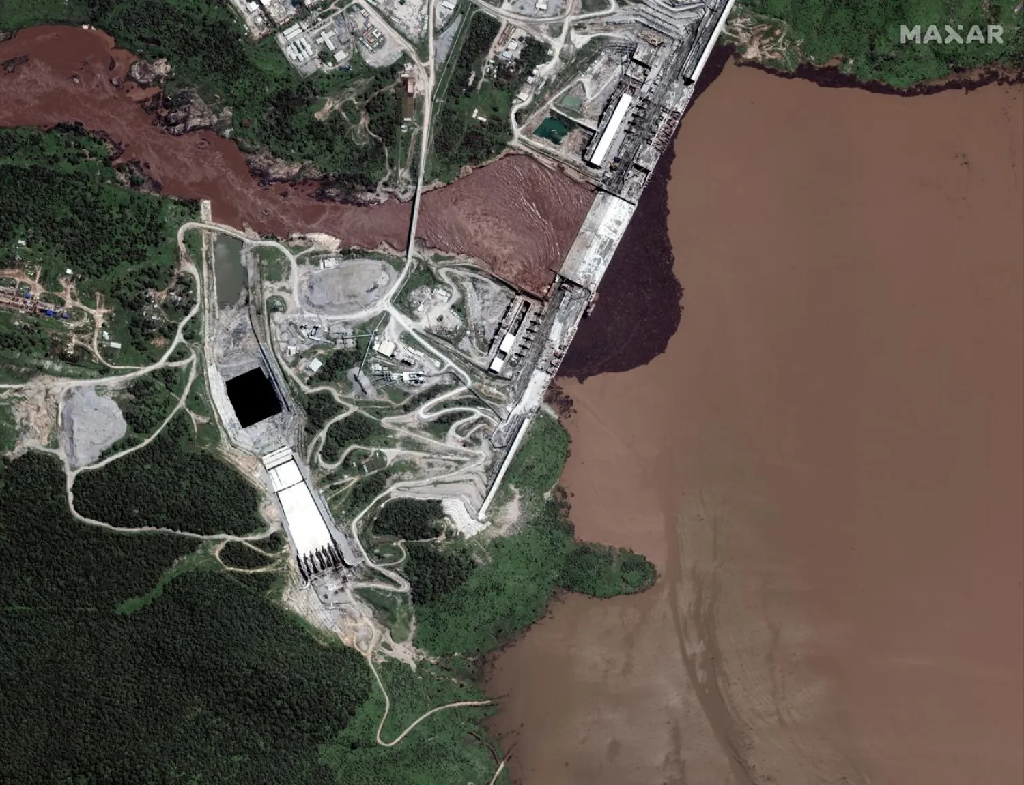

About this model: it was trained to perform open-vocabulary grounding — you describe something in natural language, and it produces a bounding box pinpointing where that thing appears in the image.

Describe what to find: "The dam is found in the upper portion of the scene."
[479,0,734,521]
